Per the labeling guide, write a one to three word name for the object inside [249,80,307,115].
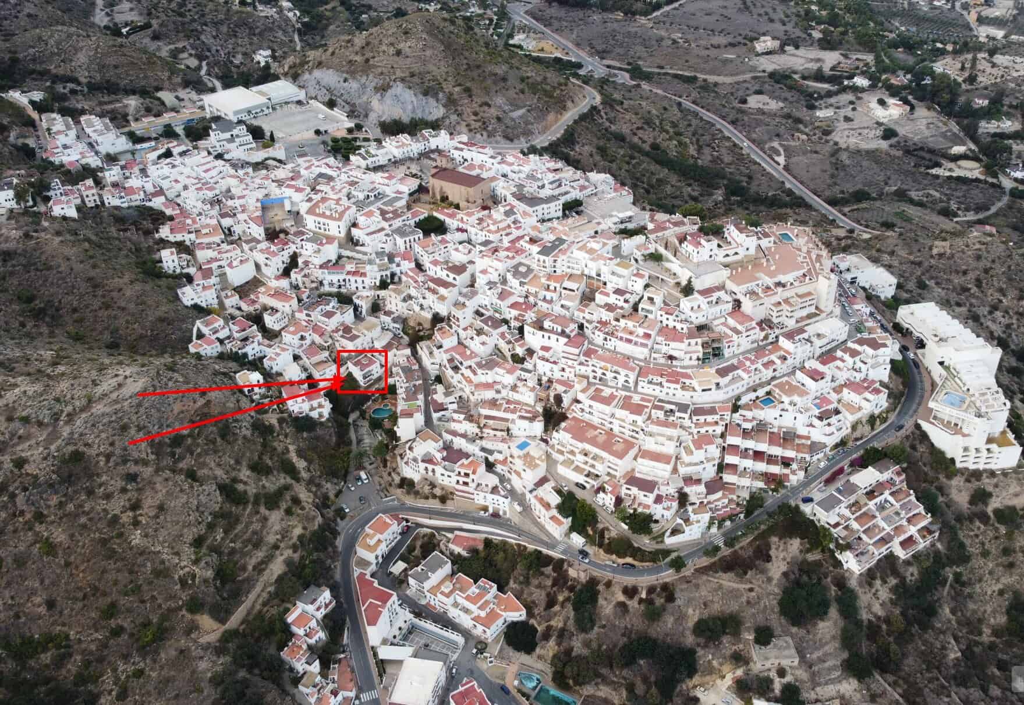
house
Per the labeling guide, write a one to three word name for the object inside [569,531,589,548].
vehicle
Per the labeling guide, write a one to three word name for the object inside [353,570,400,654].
house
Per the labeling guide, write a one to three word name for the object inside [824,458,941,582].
building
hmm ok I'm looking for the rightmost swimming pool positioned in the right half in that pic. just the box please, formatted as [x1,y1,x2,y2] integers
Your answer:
[938,390,970,409]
